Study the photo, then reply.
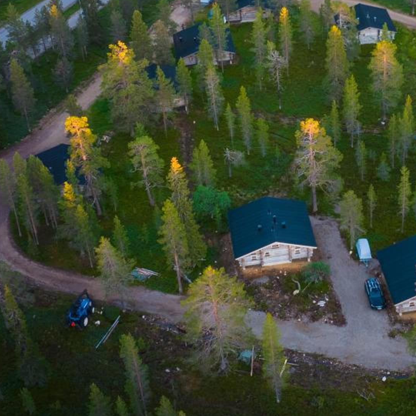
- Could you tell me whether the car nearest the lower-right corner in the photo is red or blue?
blue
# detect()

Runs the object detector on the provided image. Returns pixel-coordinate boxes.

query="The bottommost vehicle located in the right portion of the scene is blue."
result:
[362,273,388,311]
